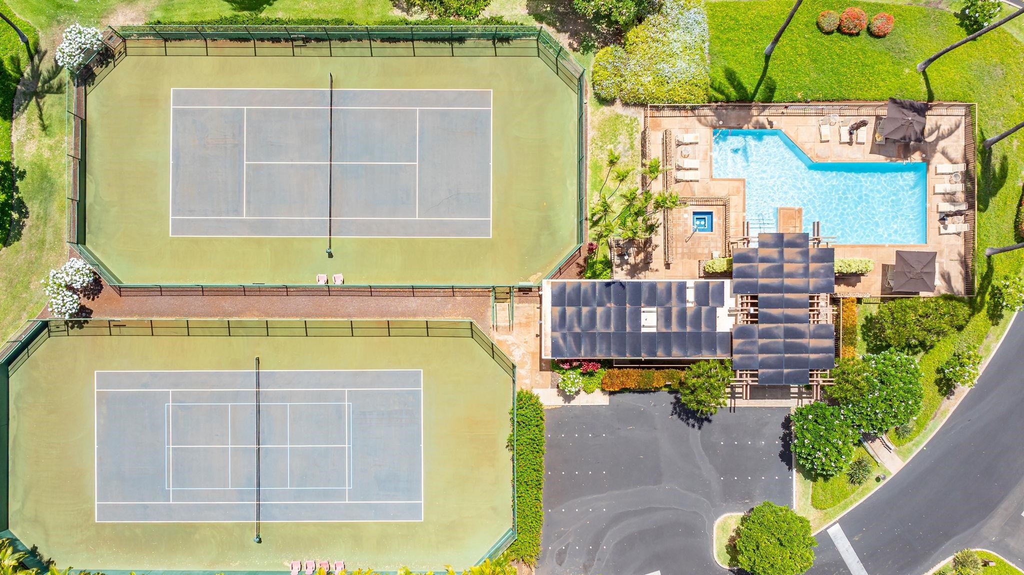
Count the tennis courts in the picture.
2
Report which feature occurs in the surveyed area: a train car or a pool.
pool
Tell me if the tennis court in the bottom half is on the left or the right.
left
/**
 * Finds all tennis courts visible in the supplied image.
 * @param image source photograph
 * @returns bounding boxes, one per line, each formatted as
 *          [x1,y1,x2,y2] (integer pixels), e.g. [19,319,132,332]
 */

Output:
[85,39,578,284]
[8,321,512,570]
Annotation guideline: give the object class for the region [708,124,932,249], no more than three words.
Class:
swimming pool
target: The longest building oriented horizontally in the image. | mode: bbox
[539,280,733,361]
